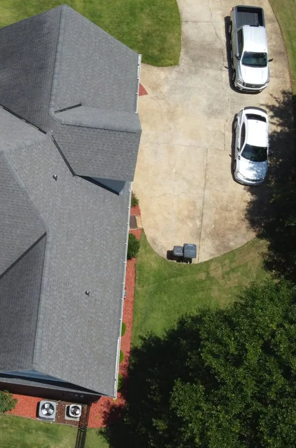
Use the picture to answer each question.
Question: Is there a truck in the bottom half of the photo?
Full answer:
No, no truck is visible in the bottom half of the photo.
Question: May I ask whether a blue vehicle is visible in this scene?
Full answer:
No, there is no blue vehicle in the image.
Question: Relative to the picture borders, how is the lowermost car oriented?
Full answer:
The lowermost car is laid out vertically.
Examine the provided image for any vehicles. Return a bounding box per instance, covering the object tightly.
[228,5,274,95]
[230,105,273,190]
